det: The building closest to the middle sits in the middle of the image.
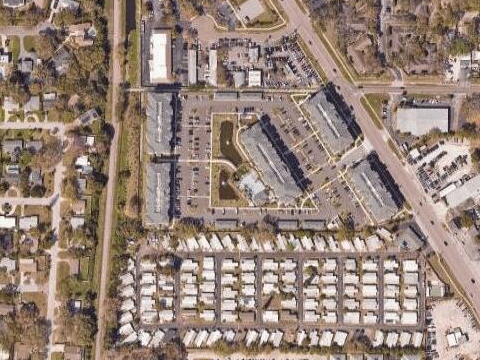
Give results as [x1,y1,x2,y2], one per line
[239,170,269,206]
